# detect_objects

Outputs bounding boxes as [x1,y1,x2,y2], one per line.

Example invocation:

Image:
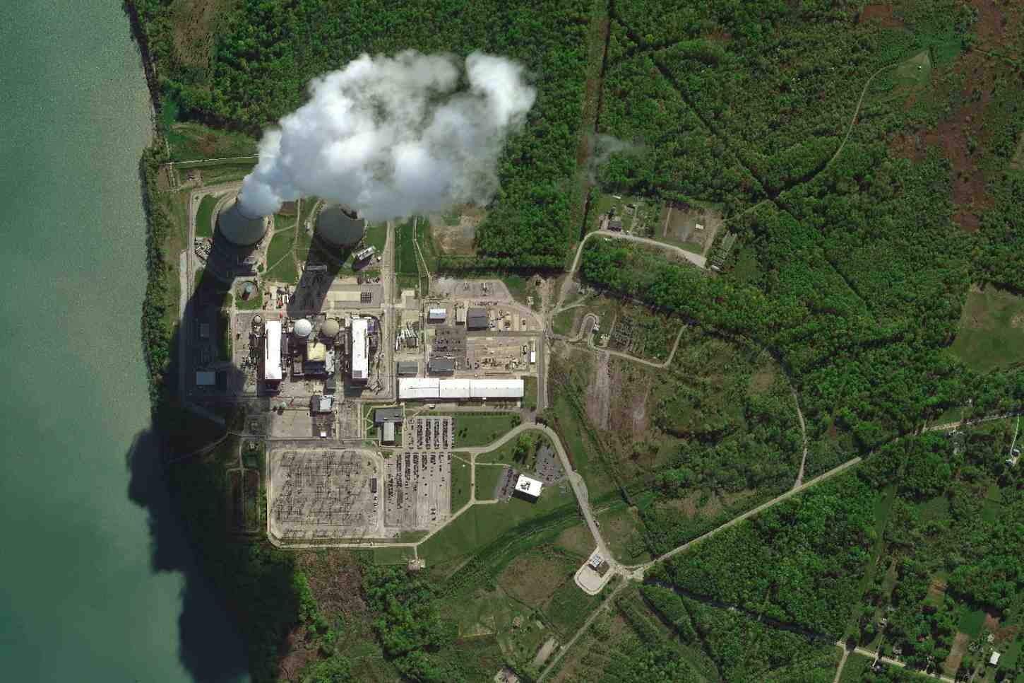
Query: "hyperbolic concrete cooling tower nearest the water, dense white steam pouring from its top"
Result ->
[214,187,269,250]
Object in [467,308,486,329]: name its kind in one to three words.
building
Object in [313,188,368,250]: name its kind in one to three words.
cooling tower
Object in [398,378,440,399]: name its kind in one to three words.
building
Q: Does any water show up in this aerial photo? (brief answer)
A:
Yes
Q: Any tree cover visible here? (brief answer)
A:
Yes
